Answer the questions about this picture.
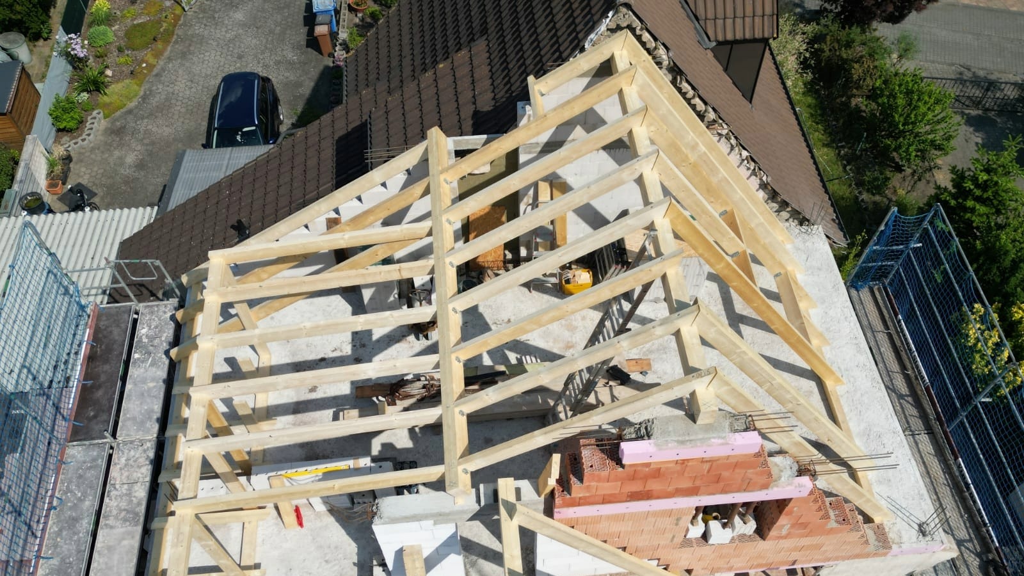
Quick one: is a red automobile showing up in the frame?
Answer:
No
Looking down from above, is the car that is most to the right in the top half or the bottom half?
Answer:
top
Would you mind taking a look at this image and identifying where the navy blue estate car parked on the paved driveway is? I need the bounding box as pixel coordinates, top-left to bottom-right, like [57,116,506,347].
[200,71,289,150]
